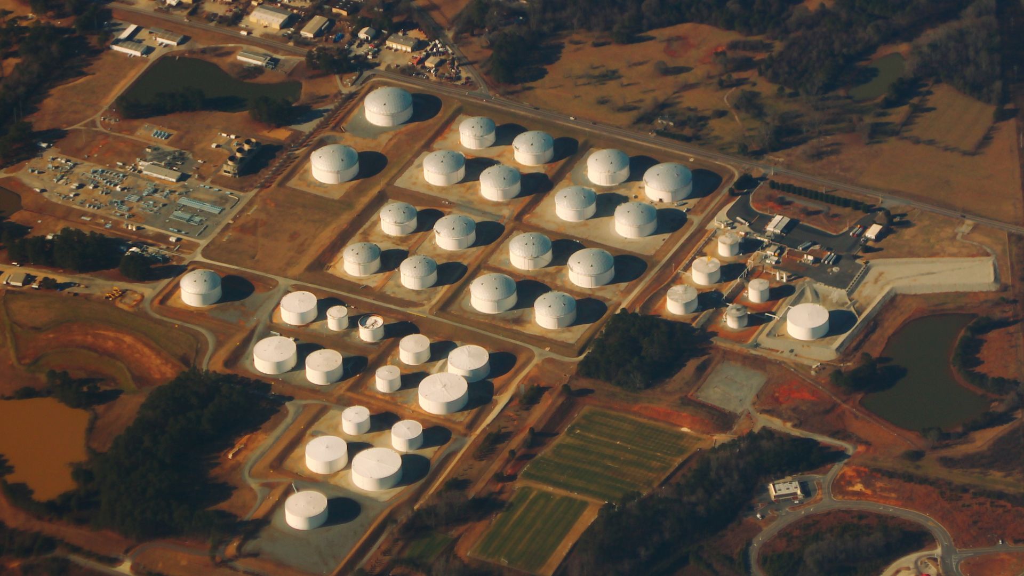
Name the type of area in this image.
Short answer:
industrial area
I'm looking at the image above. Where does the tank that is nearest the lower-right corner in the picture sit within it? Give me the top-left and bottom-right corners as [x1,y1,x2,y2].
[785,302,831,341]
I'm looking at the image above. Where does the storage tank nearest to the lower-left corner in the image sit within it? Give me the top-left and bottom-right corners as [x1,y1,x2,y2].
[283,488,330,531]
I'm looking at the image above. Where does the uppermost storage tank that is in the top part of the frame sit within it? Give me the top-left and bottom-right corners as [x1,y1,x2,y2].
[363,88,414,127]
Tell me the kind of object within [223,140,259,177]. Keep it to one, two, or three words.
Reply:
cooling tower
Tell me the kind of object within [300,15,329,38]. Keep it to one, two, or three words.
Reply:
building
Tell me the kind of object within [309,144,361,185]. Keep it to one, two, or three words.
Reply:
storage tank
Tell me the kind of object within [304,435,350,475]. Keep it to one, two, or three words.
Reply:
storage tank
